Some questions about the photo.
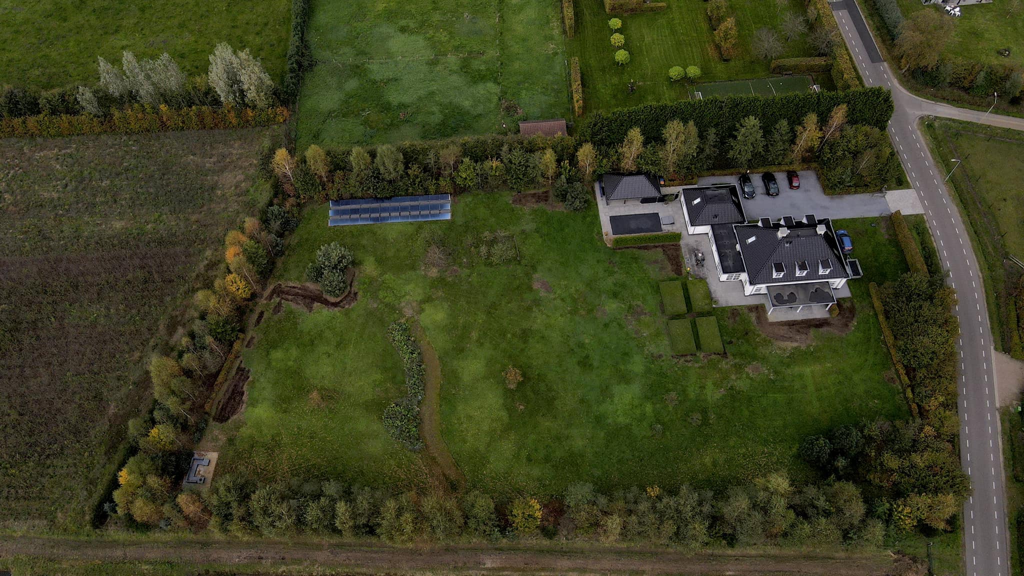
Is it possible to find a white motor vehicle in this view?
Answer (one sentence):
No, this view has no white motor vehicle in it.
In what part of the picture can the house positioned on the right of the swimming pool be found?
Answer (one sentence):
The house positioned on the right of the swimming pool sits in the right section of the image.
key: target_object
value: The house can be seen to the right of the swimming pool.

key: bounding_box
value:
[681,183,852,315]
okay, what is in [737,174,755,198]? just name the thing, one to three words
car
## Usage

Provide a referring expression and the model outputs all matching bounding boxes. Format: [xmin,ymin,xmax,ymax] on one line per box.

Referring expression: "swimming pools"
[608,211,663,236]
